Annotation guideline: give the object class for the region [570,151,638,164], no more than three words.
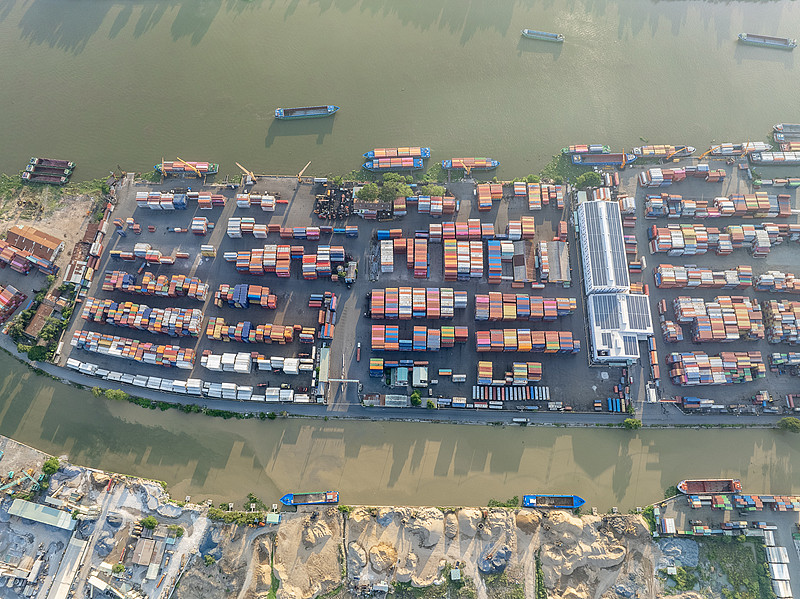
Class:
vessel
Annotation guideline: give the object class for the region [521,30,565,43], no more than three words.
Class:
vessel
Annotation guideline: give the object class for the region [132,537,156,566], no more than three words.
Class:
house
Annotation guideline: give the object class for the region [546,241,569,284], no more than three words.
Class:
building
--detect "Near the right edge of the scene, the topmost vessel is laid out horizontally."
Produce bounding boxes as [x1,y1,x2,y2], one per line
[738,34,797,50]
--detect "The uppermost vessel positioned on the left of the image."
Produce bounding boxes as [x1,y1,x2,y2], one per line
[275,104,340,119]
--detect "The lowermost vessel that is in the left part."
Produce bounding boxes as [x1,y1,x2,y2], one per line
[280,488,339,504]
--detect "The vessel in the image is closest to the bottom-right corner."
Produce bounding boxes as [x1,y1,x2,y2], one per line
[677,476,743,494]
